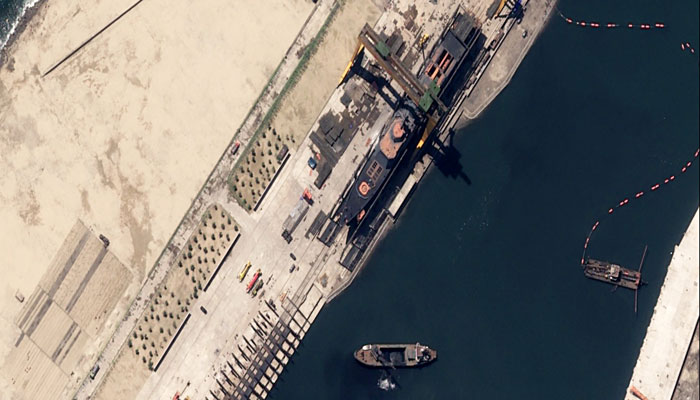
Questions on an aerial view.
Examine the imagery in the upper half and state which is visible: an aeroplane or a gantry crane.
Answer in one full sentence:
It is a gantry crane that can be seen in the upper half.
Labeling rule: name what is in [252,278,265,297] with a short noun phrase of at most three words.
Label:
vehicle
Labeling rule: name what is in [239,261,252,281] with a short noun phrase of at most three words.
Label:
vehicle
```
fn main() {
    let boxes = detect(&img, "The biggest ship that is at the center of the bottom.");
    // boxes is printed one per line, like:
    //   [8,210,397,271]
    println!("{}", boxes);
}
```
[354,343,437,369]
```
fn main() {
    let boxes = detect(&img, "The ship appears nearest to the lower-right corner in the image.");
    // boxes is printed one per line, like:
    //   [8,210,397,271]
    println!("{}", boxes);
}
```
[584,245,649,312]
